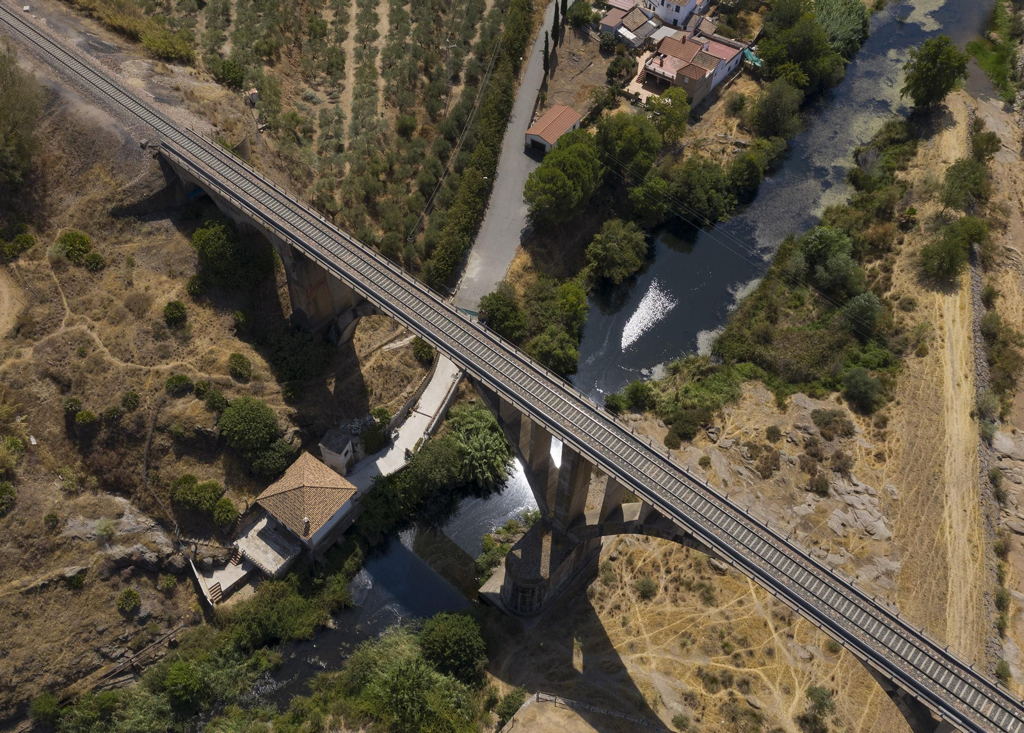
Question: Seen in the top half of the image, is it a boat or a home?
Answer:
home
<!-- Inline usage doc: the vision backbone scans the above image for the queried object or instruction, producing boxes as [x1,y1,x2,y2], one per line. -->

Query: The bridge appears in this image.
[139,112,1024,733]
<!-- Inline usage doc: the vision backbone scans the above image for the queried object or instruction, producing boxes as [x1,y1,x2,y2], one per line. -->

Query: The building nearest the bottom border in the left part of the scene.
[256,452,364,555]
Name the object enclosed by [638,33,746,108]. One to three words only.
house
